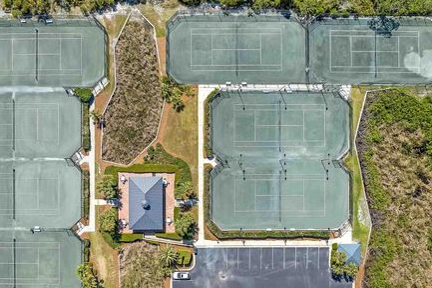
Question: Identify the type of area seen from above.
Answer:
sports ground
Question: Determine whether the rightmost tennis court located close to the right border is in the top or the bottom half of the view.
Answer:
top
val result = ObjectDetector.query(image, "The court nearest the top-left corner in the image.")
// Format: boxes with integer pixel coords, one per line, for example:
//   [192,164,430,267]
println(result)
[0,20,105,91]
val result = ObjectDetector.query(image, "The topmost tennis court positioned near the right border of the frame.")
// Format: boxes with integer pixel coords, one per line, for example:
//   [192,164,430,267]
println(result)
[308,17,432,84]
